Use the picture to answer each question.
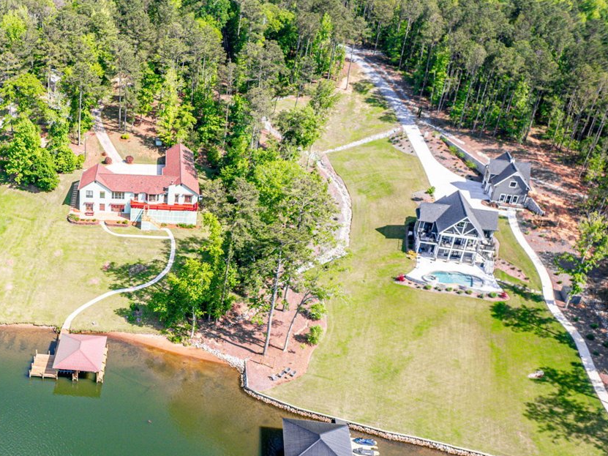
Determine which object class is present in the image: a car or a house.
house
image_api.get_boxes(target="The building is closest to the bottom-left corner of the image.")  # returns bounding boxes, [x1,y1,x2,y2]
[31,333,111,393]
